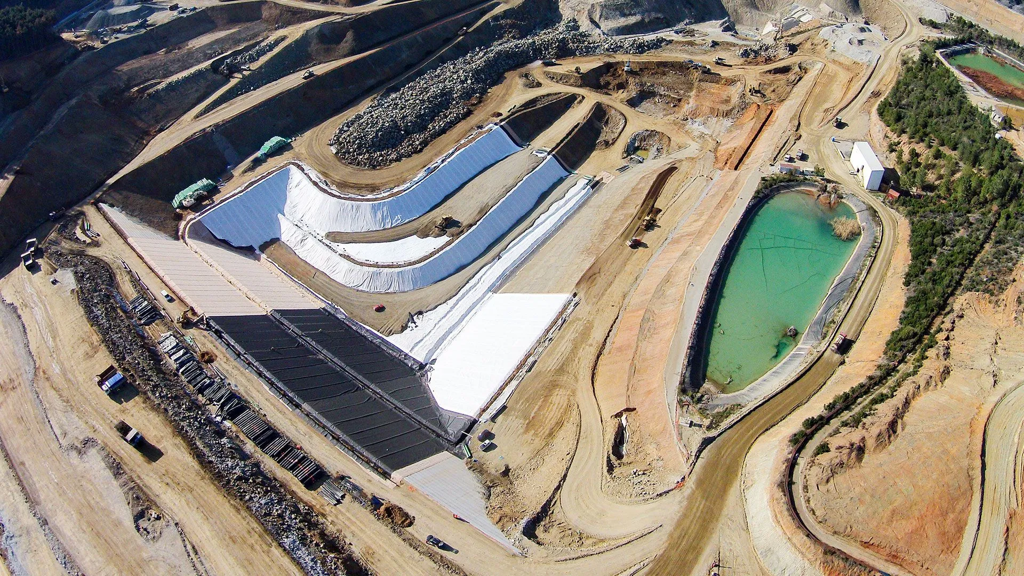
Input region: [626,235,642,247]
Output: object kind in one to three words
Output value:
vehicle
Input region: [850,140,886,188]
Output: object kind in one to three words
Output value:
shed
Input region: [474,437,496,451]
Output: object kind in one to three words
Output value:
vehicle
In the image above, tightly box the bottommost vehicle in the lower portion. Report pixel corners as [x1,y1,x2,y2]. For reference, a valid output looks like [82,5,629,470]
[421,531,447,549]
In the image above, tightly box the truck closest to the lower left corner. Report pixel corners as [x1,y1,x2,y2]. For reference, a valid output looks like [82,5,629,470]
[111,417,143,445]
